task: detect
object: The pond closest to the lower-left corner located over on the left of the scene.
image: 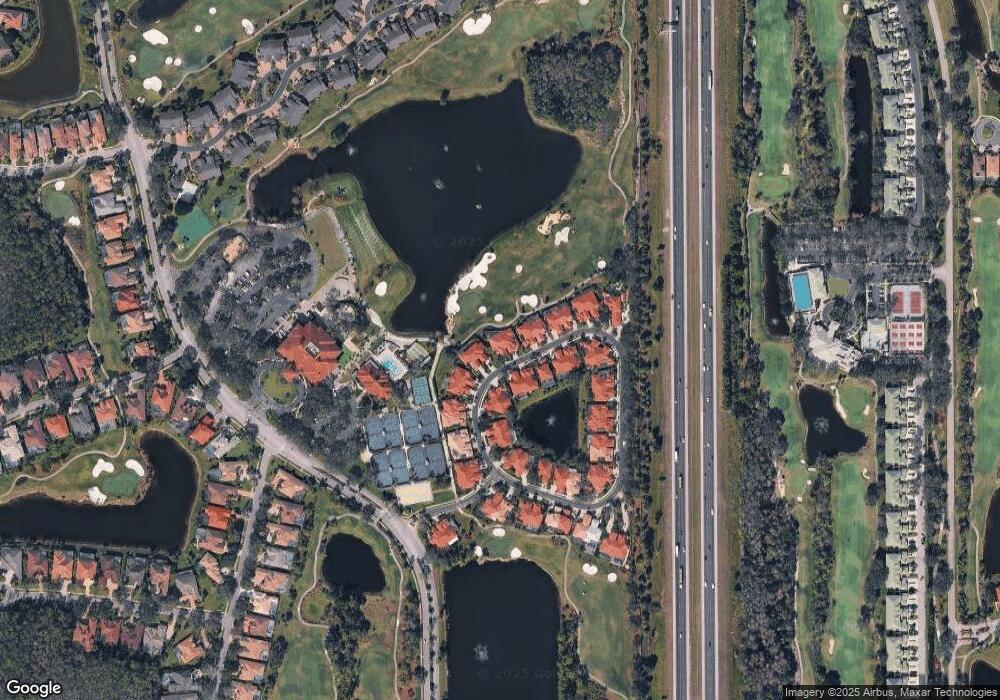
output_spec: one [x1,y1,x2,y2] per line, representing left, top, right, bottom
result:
[322,533,384,592]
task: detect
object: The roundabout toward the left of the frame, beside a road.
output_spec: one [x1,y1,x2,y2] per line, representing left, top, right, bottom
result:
[255,361,309,411]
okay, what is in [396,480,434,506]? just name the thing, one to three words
sports court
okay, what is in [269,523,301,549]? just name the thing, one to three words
house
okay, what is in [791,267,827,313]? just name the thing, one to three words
swimming pool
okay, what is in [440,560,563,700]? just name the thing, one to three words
pond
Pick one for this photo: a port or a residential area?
residential area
